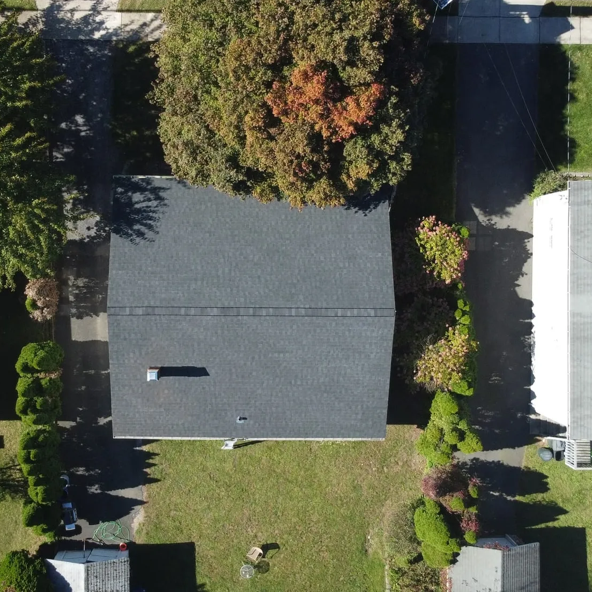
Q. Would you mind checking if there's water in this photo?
No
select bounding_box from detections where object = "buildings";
[46,544,133,592]
[442,533,540,592]
[534,179,592,442]
[106,174,396,449]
